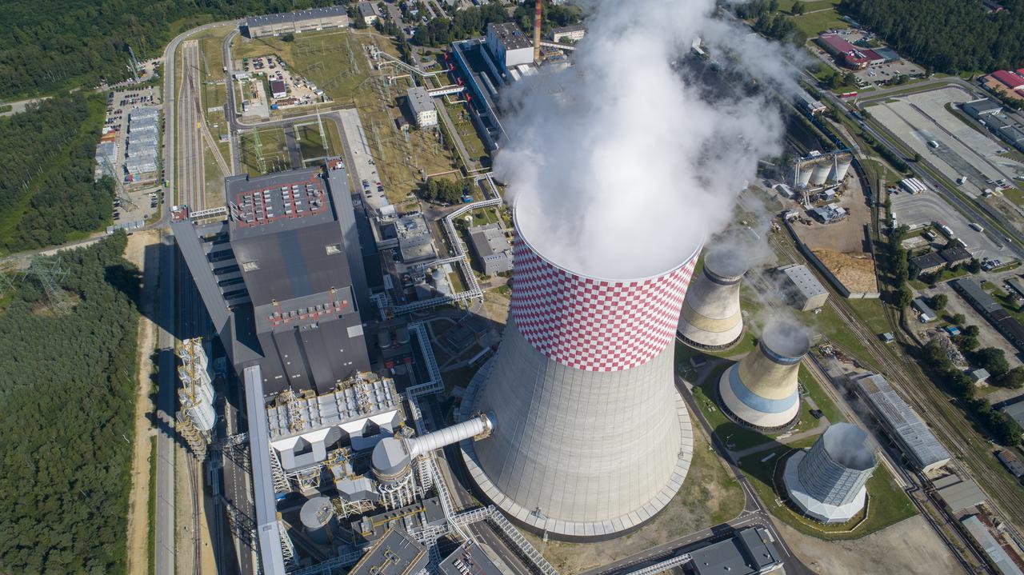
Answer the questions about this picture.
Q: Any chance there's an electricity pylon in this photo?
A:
Yes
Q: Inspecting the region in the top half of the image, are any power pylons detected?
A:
Yes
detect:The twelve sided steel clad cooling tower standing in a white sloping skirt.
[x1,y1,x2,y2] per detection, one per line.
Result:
[783,421,879,522]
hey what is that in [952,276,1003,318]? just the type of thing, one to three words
shed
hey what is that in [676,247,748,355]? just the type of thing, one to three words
cooling tower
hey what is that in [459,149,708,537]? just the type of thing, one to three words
cooling tower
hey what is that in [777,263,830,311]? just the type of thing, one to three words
building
